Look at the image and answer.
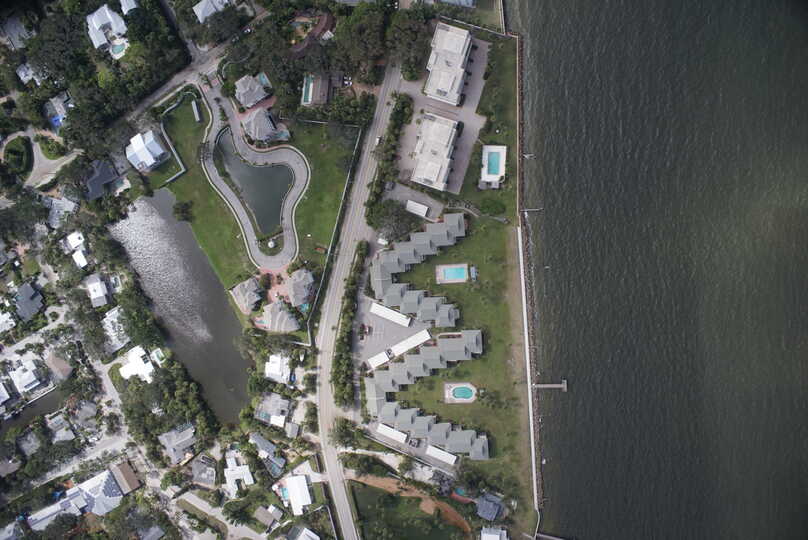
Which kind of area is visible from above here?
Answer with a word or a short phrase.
residential area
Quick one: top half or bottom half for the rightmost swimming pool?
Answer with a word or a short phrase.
top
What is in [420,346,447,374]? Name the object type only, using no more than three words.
house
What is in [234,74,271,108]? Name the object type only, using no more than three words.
house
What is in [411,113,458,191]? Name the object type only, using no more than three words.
building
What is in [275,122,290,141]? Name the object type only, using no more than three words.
swimming pool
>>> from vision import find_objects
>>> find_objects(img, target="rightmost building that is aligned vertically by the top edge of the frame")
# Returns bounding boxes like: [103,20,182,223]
[424,24,472,106]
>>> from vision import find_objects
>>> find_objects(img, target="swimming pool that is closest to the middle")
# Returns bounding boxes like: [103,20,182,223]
[436,264,468,284]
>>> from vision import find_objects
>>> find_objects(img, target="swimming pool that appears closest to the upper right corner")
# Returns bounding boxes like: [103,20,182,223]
[481,145,507,183]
